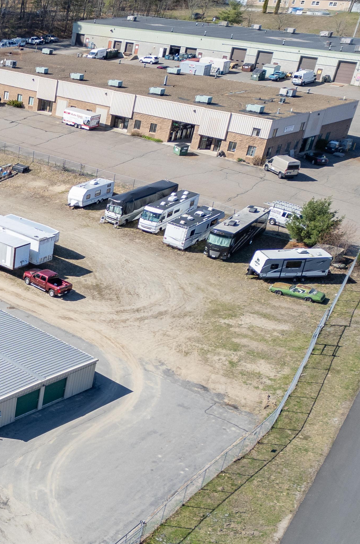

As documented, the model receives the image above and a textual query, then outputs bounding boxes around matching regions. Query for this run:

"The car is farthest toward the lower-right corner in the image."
[270,283,323,302]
